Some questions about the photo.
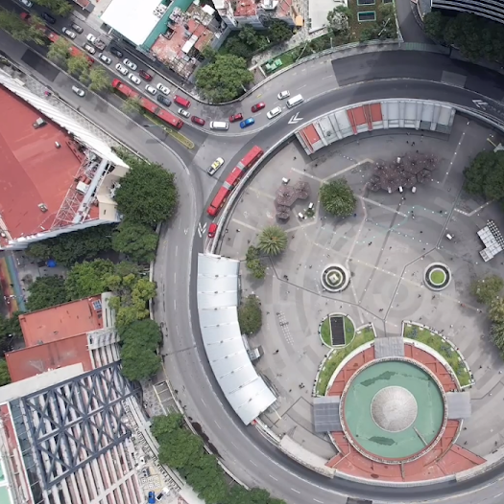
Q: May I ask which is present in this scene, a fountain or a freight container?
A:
fountain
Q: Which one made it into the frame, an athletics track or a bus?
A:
bus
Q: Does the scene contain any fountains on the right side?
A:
Yes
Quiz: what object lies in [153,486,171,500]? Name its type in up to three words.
vehicle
